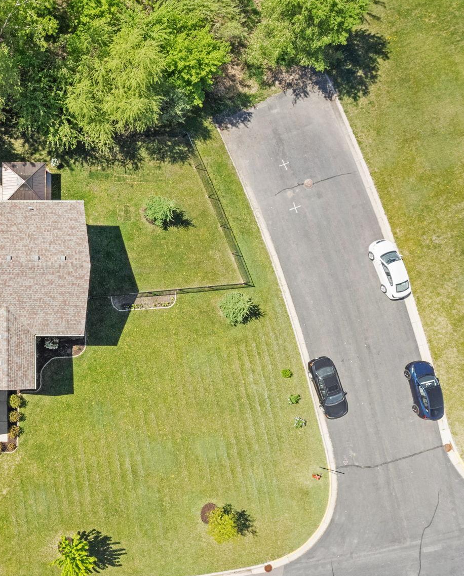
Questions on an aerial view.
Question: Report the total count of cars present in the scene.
three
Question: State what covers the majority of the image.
grass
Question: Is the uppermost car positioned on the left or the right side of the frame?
right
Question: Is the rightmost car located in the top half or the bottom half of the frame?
bottom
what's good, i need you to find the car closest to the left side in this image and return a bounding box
[309,357,349,419]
